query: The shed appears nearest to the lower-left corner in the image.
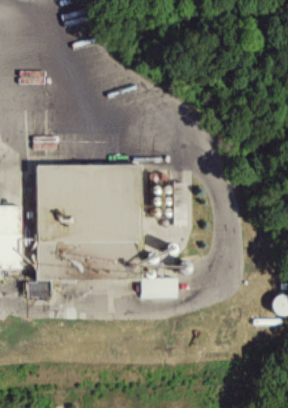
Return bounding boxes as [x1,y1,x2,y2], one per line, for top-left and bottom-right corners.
[27,282,50,302]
